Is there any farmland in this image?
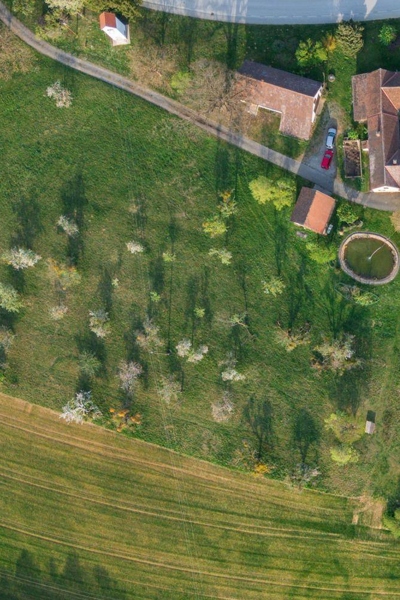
Yes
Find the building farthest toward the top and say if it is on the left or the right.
left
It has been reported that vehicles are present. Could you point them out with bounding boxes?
[325,127,337,150]
[320,147,334,170]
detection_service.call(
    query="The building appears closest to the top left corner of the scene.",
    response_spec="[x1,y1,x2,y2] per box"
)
[100,12,126,44]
